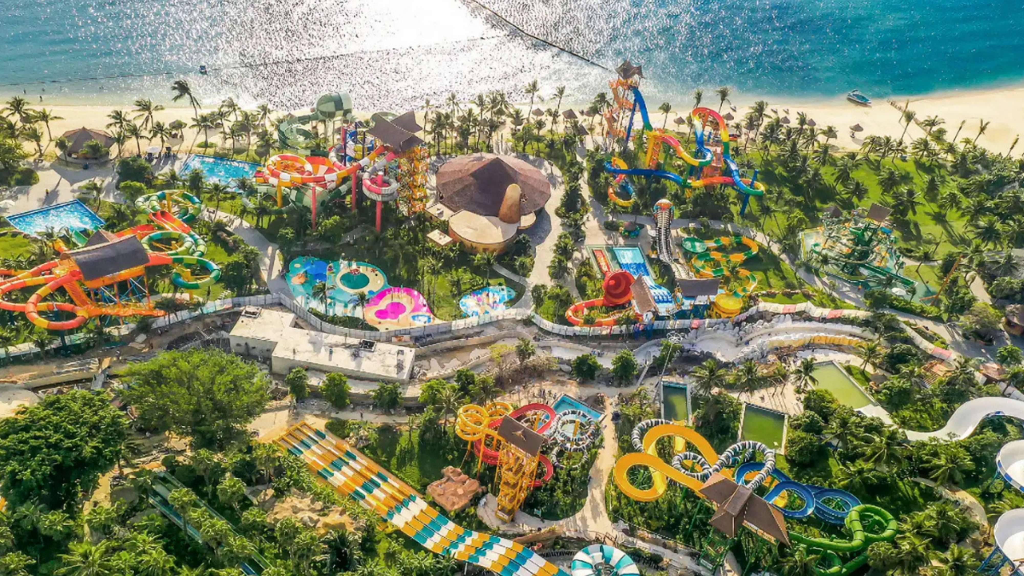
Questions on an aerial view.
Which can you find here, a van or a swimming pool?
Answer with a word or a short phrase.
swimming pool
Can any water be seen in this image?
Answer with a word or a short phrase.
Yes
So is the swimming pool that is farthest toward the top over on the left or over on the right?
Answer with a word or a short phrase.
left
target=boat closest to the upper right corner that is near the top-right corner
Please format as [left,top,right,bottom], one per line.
[845,90,873,105]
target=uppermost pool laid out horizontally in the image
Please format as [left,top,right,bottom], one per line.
[176,152,265,194]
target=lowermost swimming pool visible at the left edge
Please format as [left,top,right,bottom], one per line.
[3,196,109,239]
